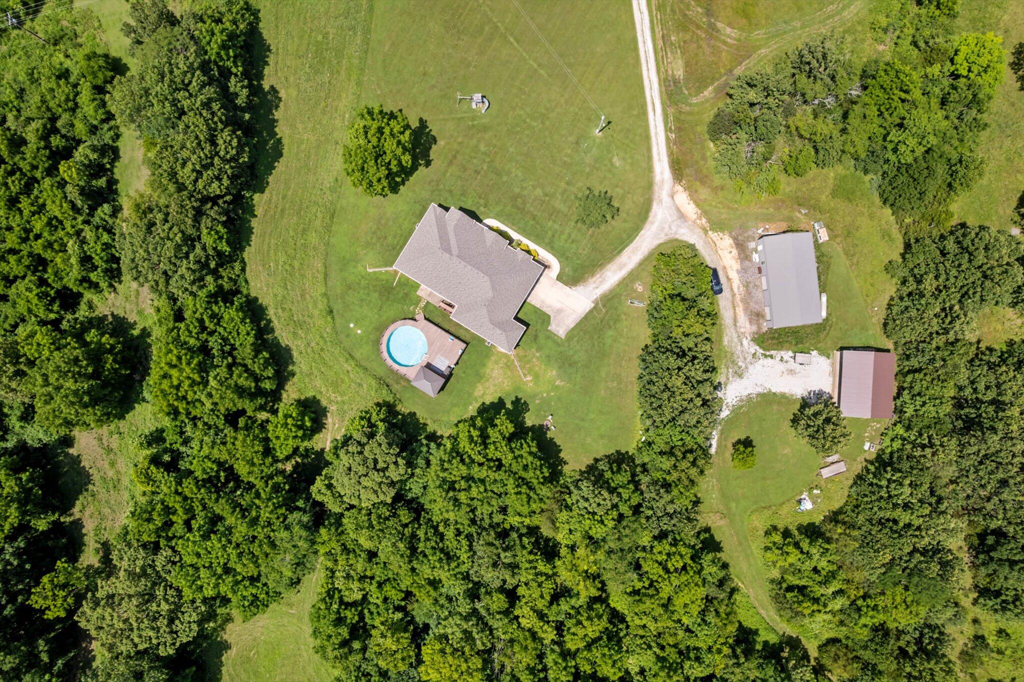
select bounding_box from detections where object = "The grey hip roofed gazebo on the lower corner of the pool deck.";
[412,366,445,397]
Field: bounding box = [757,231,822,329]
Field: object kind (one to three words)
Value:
building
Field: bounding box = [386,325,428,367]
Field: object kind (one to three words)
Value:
swimming pool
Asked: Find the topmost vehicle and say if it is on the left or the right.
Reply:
right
